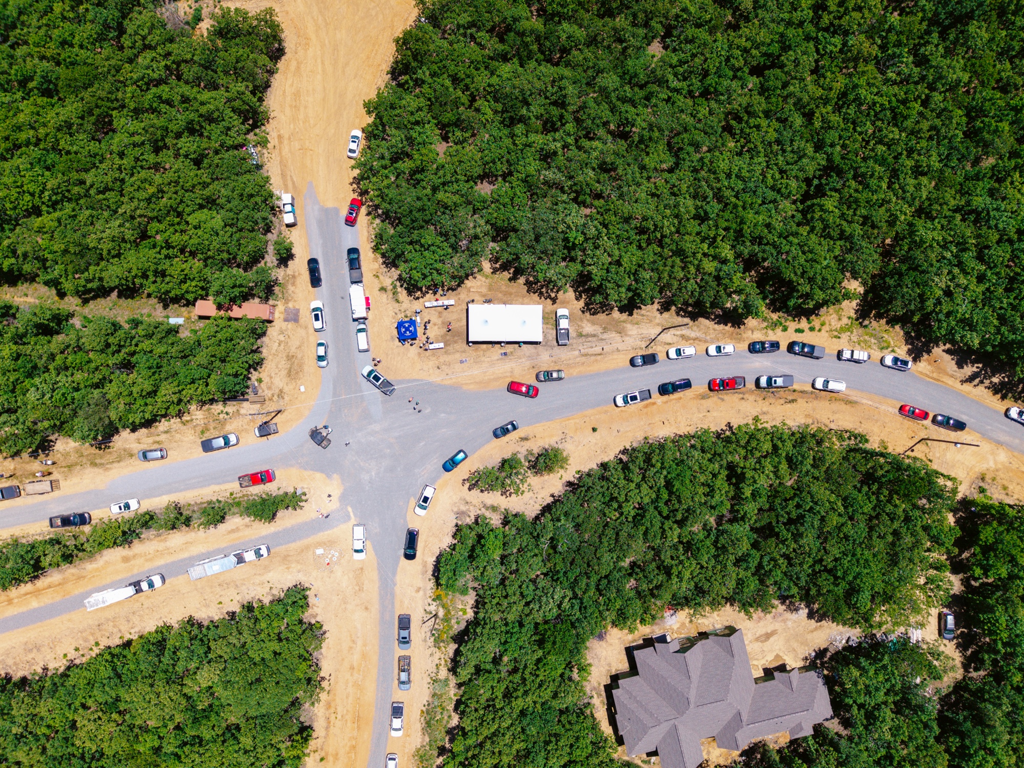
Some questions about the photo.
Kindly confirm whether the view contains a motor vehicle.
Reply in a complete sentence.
Yes, the image includes a motor vehicle.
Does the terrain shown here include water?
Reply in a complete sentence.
No, the picture contains no water.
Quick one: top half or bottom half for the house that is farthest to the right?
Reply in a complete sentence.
It is in the bottom half that the house that is farthest to the right appears.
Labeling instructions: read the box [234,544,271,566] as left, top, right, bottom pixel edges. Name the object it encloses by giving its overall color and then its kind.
white truck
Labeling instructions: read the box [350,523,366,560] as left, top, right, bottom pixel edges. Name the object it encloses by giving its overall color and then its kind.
white vehicle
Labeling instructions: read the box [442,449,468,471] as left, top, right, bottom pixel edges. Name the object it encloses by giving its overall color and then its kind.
blue car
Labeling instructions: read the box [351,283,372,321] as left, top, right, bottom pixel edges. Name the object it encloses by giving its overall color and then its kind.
white trailer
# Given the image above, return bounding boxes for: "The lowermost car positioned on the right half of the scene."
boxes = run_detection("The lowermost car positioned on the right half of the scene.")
[939,611,958,640]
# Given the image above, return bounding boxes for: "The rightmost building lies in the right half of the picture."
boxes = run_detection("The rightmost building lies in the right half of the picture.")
[612,623,835,768]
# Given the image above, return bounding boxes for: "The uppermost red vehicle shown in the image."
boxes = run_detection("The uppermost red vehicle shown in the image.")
[344,197,362,227]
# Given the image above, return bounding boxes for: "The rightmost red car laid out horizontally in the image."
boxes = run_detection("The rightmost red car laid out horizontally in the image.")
[897,404,931,421]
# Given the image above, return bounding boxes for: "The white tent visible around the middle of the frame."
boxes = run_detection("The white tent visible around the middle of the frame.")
[467,304,545,344]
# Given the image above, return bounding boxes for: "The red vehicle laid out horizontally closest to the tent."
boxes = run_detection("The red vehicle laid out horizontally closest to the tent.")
[507,380,540,398]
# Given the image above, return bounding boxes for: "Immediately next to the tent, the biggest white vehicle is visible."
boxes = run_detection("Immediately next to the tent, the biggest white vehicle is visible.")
[556,308,572,348]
